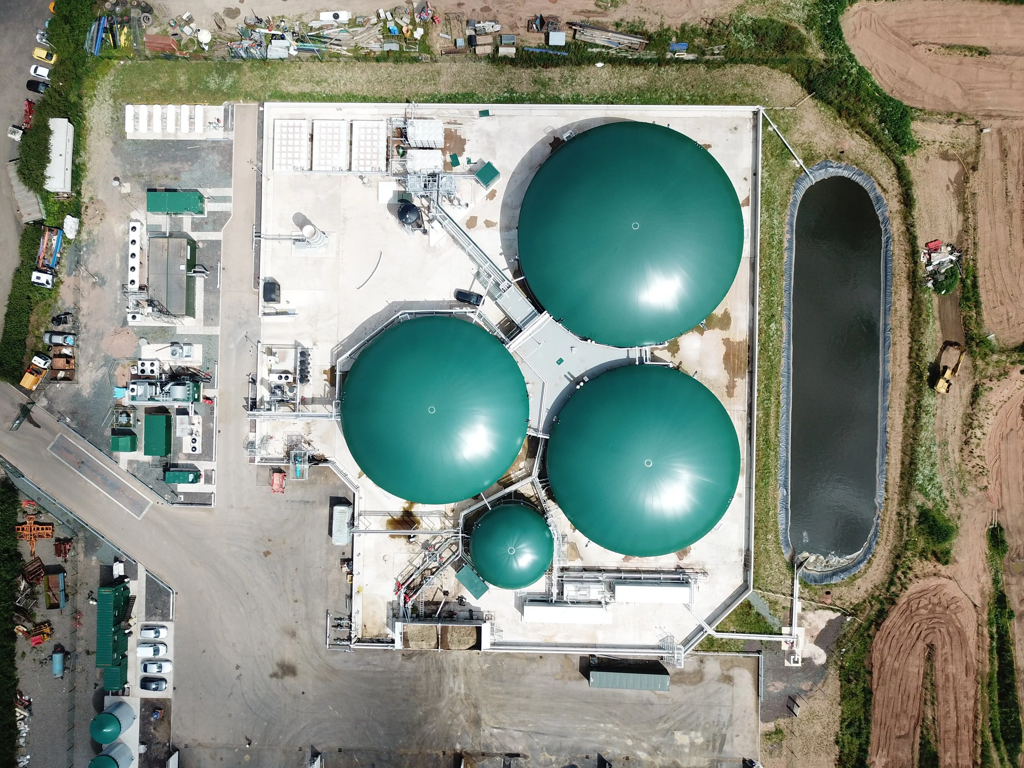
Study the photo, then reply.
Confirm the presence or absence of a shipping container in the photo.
Yes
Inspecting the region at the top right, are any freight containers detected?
No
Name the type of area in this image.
industrial area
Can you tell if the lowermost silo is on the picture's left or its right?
left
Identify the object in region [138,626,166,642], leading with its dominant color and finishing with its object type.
white car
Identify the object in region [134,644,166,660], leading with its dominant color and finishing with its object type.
white car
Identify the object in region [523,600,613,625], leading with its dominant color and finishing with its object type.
white shipping container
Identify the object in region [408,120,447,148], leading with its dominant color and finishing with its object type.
white water tank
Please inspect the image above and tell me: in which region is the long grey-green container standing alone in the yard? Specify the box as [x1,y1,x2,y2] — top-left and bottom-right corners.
[587,664,670,691]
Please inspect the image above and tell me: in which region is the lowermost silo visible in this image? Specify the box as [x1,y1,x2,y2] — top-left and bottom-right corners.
[84,740,136,768]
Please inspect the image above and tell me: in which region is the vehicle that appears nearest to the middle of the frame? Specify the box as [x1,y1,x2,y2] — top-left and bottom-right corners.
[454,288,485,306]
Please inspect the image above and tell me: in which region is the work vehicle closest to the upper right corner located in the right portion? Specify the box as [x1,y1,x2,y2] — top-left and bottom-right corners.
[930,346,966,393]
